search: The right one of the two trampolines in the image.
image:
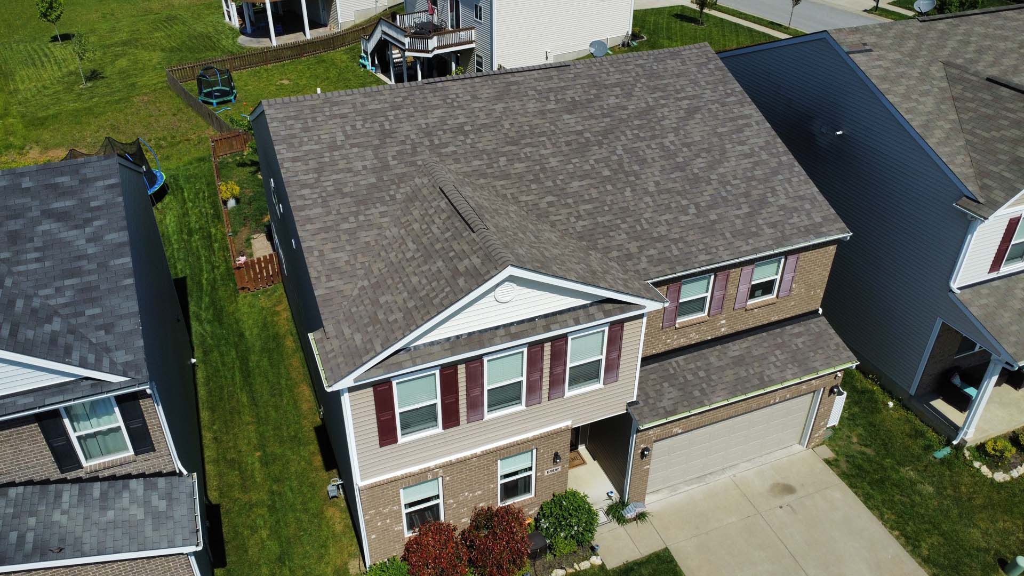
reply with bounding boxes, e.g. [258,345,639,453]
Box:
[193,66,237,107]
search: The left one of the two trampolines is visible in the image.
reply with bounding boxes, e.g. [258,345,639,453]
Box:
[59,128,170,211]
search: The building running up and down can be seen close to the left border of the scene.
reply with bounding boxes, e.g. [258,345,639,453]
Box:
[0,150,212,576]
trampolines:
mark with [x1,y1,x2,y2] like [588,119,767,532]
[59,128,170,211]
[193,66,237,107]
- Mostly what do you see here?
buildings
